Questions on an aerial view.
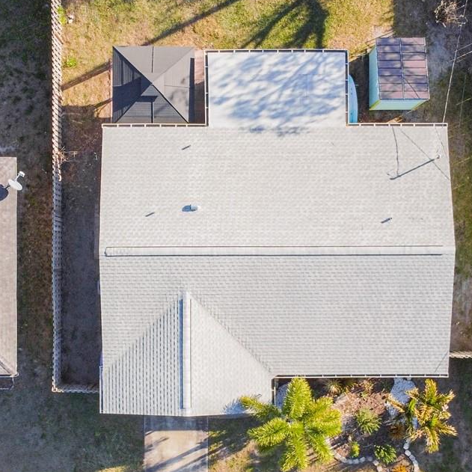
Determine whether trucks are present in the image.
No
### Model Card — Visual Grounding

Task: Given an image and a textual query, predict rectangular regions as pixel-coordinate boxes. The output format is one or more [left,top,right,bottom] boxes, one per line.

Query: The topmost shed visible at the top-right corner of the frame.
[367,36,431,111]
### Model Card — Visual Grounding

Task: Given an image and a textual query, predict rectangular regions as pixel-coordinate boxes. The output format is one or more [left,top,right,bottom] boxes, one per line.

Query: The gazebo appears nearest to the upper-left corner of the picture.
[112,46,194,123]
